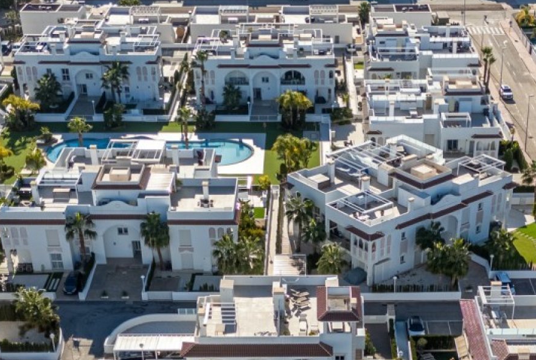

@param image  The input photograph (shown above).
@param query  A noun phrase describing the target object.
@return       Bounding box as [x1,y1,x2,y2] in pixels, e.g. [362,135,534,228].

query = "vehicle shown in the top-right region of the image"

[501,82,513,96]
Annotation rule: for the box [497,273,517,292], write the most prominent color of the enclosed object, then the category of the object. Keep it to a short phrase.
blue car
